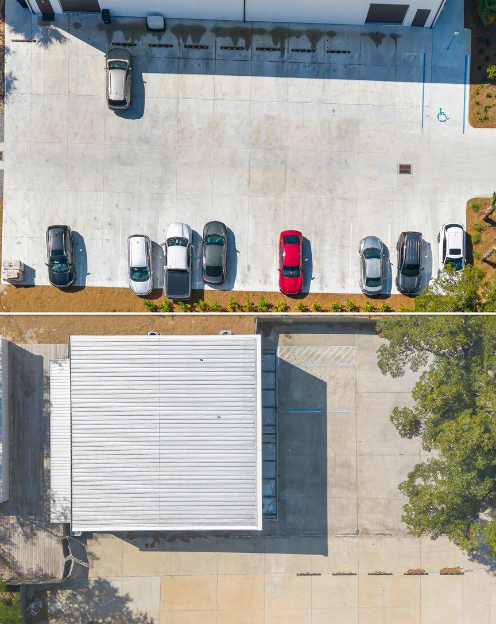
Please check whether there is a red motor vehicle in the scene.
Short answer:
Yes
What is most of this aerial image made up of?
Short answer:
paved ground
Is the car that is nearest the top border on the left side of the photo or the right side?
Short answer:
left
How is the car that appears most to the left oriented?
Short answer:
from top to bottom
